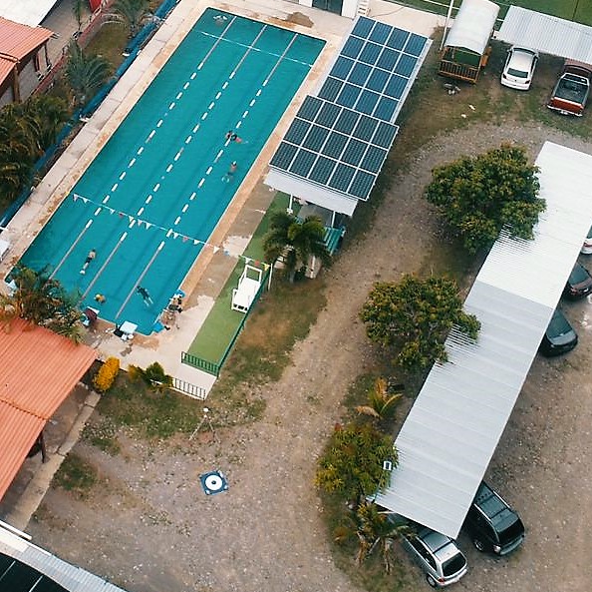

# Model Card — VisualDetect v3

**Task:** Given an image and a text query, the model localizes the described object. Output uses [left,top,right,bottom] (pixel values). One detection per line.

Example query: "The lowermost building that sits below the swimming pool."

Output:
[0,515,125,592]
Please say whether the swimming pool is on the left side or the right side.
left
